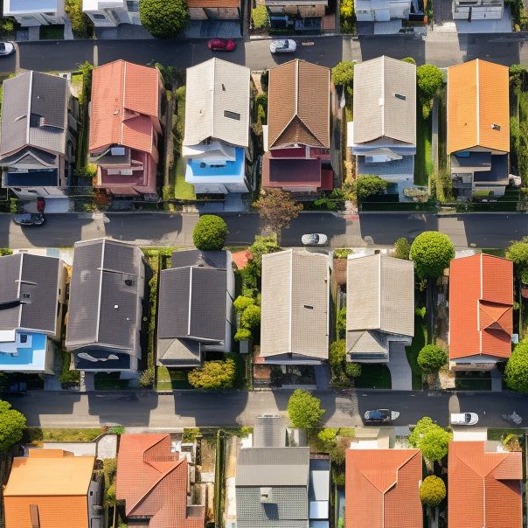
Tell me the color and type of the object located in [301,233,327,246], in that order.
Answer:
white vehicle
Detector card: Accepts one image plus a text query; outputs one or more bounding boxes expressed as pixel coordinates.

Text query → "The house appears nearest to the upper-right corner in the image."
[452,0,503,26]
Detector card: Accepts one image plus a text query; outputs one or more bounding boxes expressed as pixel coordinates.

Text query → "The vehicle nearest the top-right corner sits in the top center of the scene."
[270,38,295,53]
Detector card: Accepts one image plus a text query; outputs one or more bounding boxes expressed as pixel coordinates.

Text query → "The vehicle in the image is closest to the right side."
[450,411,476,427]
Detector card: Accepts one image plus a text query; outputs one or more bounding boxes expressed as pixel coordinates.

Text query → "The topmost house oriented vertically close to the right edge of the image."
[448,63,508,203]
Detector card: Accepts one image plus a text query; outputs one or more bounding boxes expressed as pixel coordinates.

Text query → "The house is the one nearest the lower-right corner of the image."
[448,441,522,528]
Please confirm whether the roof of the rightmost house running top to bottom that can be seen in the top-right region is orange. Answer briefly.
Yes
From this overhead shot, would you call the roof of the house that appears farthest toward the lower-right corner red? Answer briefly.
Yes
